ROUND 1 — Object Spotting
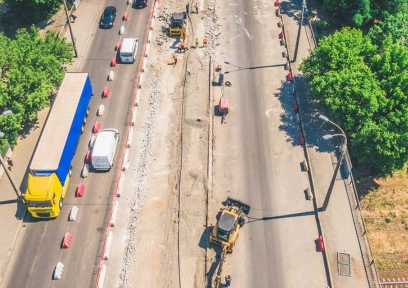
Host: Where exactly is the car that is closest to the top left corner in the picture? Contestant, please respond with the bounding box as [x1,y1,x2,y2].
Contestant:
[99,7,116,27]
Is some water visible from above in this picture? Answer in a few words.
No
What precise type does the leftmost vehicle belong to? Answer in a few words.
truck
